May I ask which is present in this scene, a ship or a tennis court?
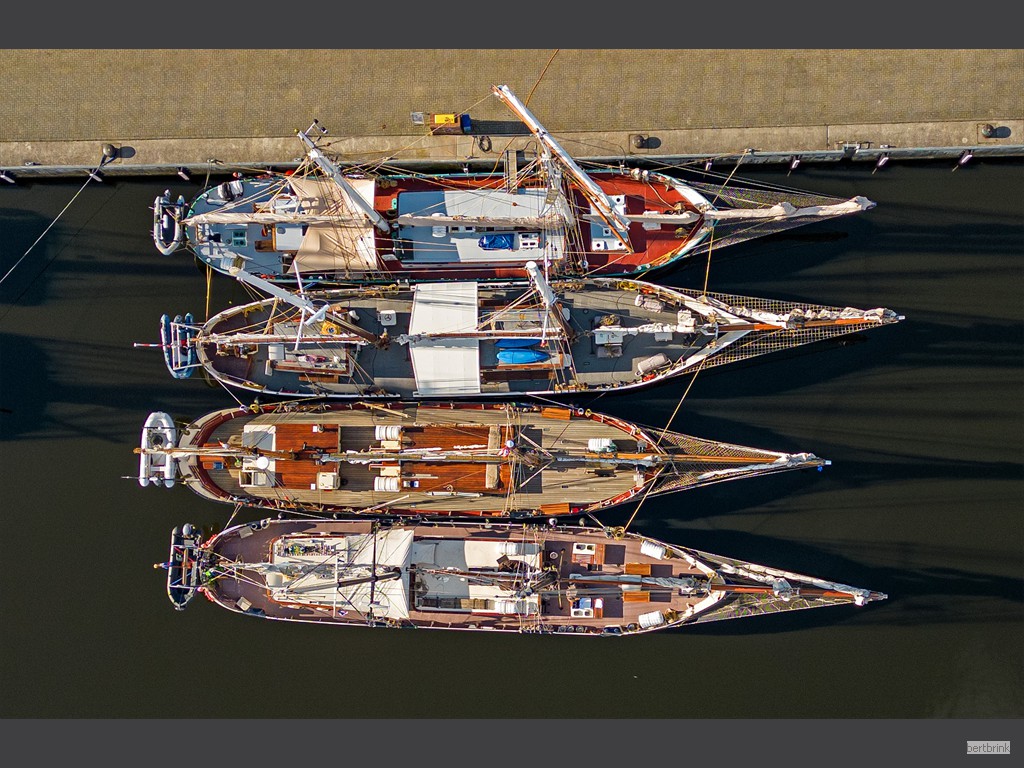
ship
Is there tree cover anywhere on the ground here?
No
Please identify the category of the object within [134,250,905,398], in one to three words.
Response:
ship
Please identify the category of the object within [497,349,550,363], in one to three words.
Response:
boat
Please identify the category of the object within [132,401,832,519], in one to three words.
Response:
ship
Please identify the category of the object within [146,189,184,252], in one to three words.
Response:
boat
